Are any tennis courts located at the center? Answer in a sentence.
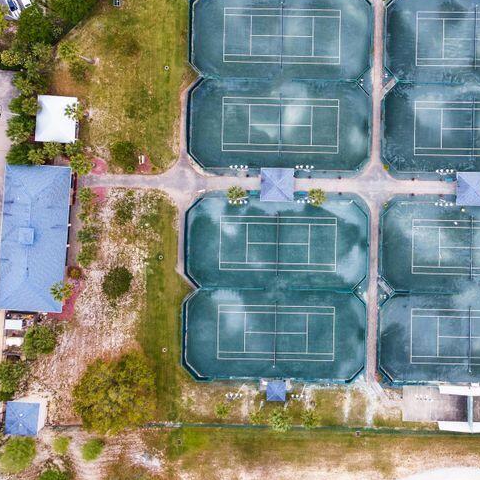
Yes, at the center there is a tennis court.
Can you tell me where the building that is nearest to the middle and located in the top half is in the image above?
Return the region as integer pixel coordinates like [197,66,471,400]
[259,168,293,202]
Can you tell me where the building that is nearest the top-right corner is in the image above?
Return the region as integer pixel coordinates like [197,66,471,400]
[455,172,480,205]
